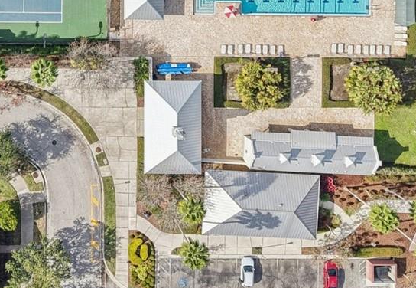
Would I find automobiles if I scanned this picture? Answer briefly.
Yes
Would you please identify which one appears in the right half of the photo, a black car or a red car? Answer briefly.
red car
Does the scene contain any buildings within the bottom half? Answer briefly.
Yes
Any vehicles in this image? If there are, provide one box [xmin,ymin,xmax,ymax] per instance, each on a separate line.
[240,255,257,288]
[323,259,341,288]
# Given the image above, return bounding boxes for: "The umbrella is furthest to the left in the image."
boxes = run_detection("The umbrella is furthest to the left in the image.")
[225,5,238,19]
